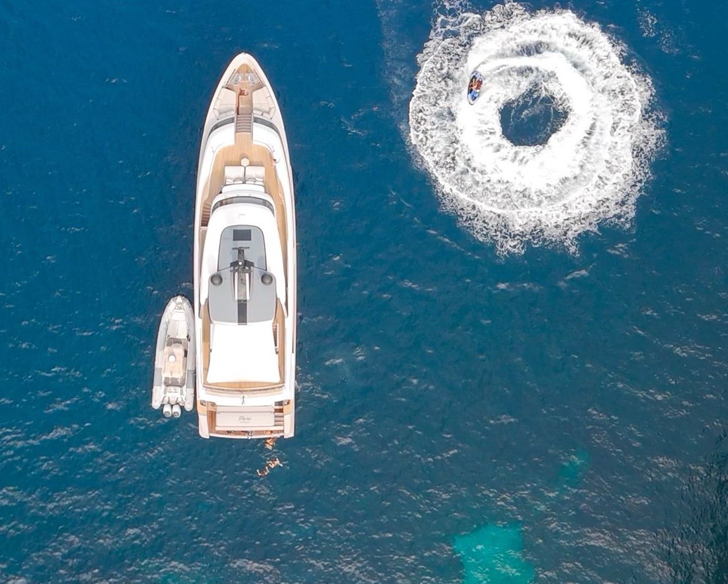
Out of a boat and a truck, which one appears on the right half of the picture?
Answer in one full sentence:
You can see a boat on the right half of the picture.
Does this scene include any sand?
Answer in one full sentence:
No, there is no sand in the image.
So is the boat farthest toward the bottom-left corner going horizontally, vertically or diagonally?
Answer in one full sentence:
Seen from above, the boat farthest toward the bottom-left corner lies vertically.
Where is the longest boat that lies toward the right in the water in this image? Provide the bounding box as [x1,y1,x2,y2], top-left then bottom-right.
[468,70,484,104]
